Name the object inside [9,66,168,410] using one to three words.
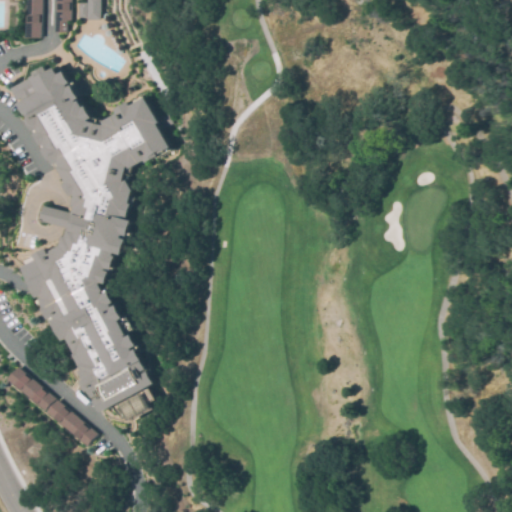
building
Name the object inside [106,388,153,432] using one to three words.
building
